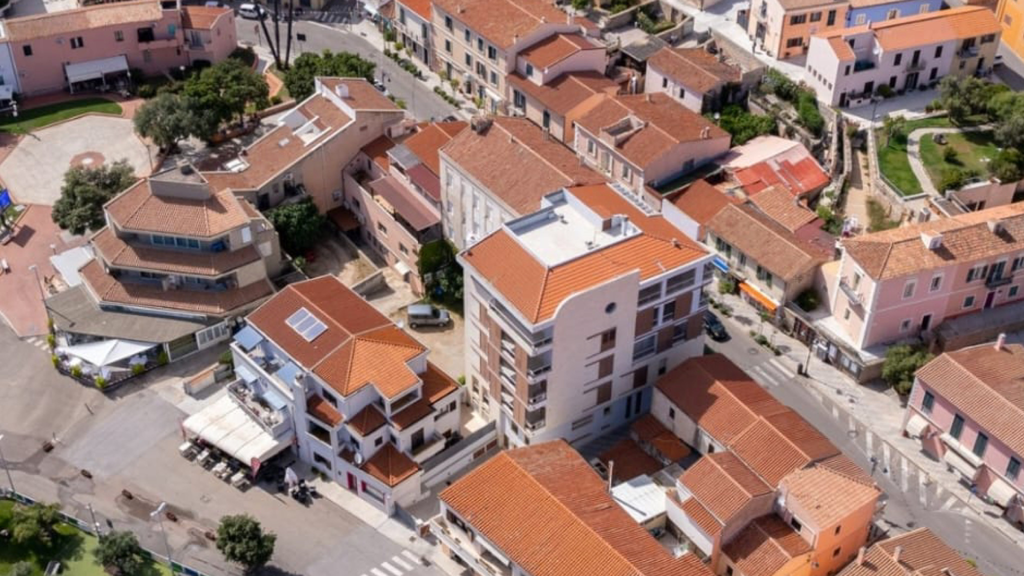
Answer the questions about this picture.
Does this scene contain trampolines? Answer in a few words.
No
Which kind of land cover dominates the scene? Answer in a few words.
buildings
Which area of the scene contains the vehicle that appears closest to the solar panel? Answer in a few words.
center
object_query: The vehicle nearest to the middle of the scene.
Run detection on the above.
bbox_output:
[405,304,451,331]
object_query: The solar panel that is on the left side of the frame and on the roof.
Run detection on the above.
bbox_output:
[285,307,329,342]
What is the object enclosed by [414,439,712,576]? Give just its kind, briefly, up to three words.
house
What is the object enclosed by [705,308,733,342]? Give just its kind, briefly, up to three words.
car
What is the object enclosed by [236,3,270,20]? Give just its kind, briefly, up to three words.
car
